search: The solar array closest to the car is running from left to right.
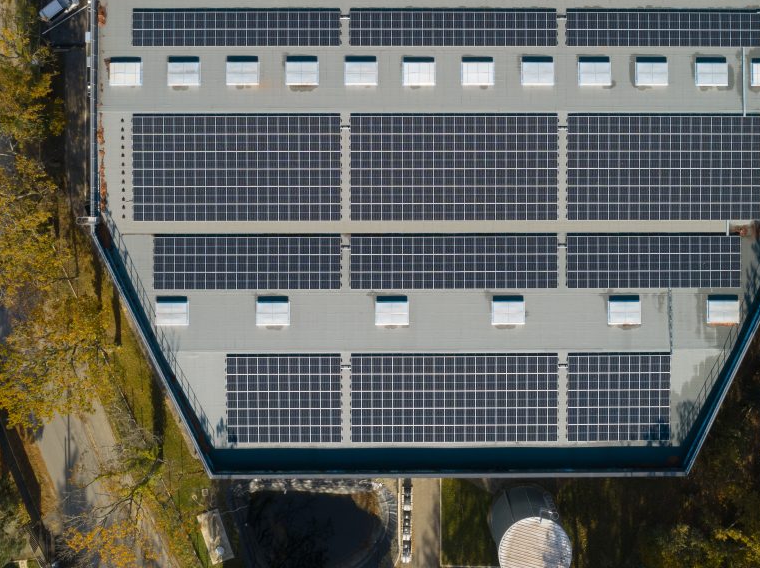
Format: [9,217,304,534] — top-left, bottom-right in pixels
[132,12,342,46]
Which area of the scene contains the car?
top left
